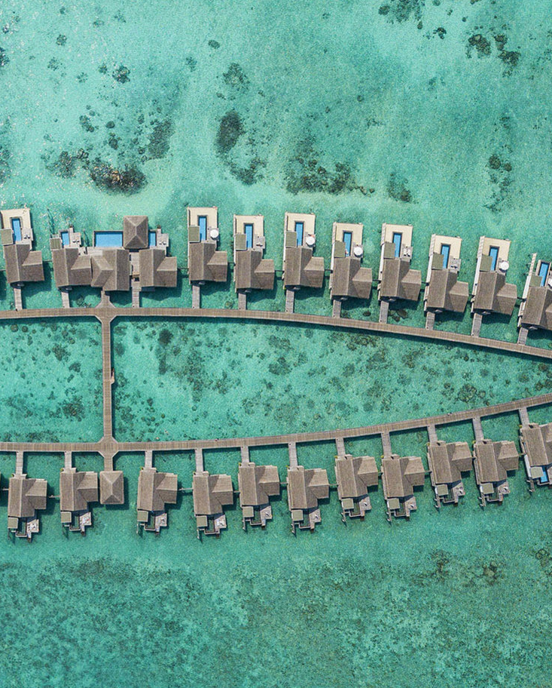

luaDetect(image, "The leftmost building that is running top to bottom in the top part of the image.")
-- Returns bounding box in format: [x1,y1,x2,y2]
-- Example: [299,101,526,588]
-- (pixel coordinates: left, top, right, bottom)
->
[0,205,44,291]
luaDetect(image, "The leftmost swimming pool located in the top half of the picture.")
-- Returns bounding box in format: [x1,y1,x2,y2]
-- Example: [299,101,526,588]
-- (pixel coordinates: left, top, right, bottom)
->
[11,216,24,244]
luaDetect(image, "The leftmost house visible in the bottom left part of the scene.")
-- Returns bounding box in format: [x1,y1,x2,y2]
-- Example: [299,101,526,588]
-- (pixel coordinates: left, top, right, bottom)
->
[4,471,47,544]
